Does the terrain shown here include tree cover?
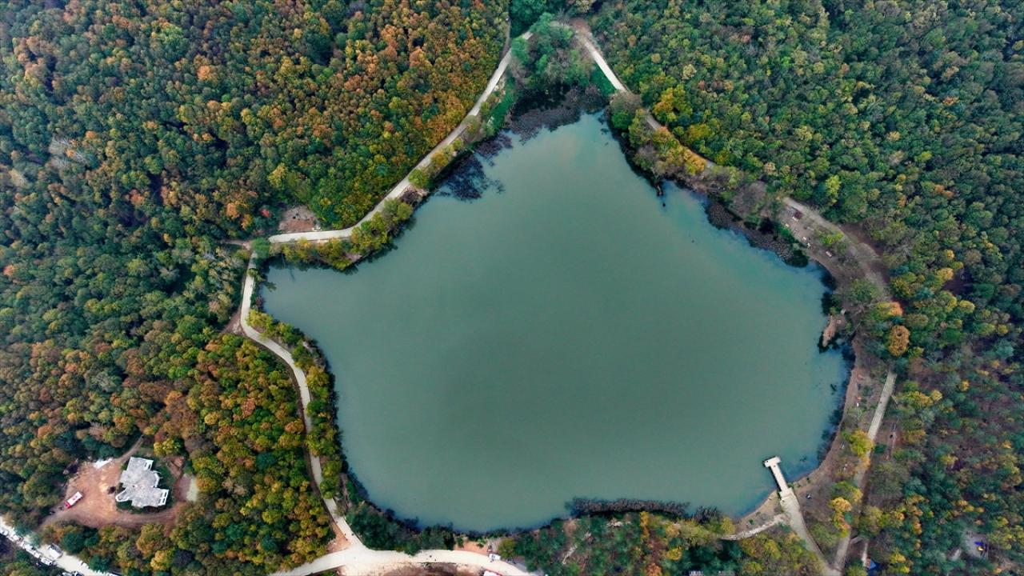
Yes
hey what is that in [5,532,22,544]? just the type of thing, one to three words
vehicle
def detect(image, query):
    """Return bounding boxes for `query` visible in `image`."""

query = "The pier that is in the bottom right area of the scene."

[764,457,794,500]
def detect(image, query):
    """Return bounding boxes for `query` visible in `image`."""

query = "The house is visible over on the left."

[115,457,170,508]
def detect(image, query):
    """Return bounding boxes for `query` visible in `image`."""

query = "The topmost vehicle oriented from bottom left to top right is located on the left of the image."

[62,490,85,509]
